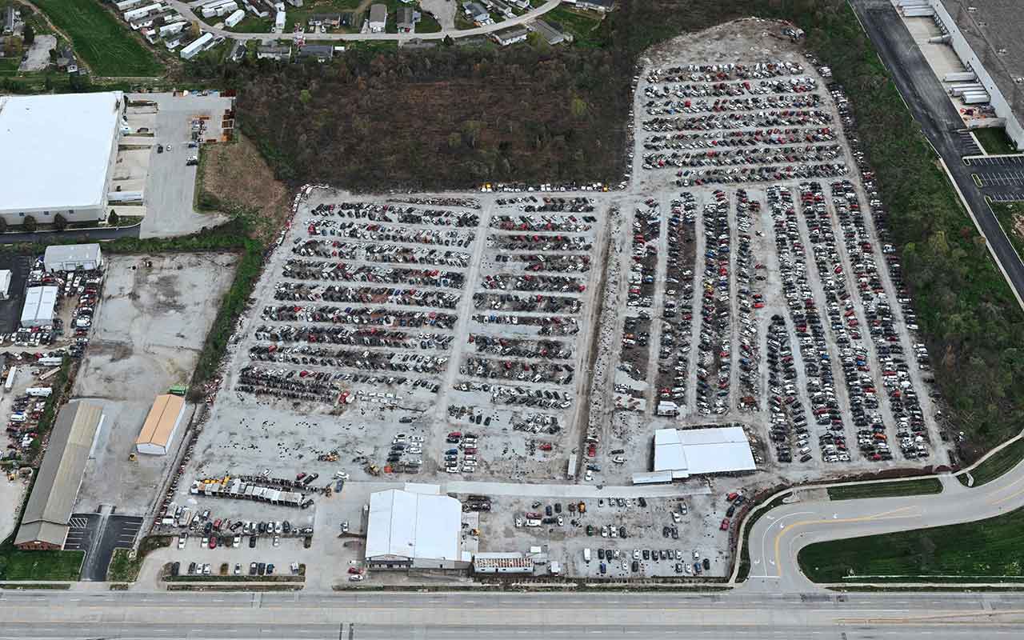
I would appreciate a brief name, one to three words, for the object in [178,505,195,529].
vehicle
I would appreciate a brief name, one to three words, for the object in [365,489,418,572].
building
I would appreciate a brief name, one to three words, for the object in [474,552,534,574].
shed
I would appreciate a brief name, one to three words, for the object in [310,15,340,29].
house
